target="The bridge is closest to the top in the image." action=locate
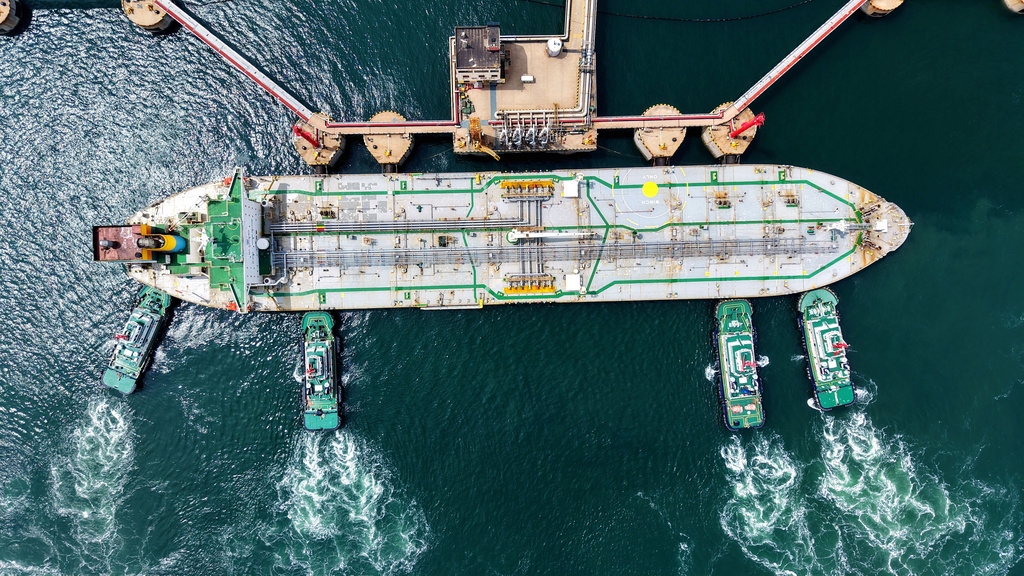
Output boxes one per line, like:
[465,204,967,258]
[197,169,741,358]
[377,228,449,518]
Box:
[566,0,598,37]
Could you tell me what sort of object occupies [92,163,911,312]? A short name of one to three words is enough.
ship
